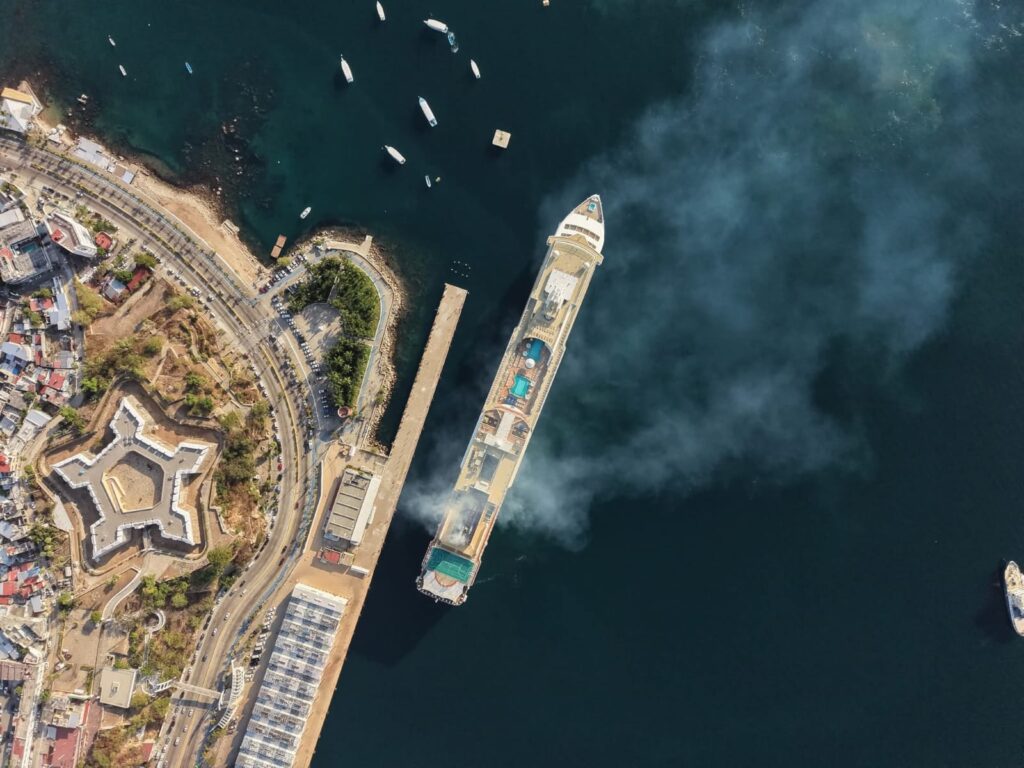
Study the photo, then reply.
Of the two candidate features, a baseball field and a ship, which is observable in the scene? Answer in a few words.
ship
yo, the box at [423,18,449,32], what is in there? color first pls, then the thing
white boat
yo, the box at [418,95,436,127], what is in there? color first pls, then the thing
white boat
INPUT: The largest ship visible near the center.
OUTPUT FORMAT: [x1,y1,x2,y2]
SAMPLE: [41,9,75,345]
[417,194,603,603]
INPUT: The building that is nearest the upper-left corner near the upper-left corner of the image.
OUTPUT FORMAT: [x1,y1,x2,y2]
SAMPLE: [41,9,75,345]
[0,80,46,134]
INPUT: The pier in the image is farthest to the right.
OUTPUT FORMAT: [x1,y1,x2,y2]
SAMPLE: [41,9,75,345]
[388,284,467,452]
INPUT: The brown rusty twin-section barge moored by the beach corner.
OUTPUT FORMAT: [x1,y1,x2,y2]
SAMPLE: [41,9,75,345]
[270,234,288,258]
